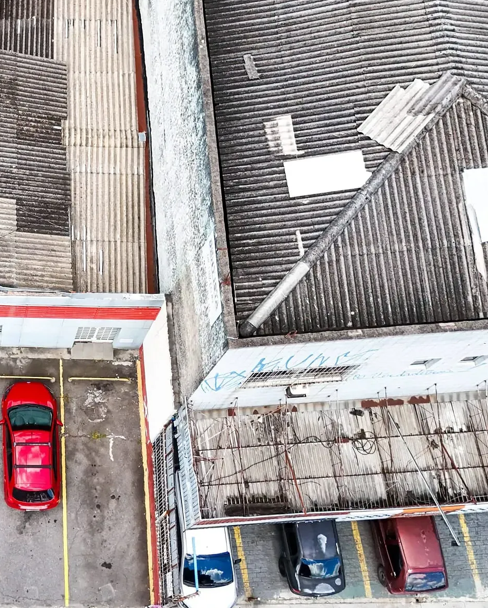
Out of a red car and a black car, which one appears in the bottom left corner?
red car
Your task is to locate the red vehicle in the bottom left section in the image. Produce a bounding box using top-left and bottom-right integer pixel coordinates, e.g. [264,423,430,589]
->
[0,382,63,513]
